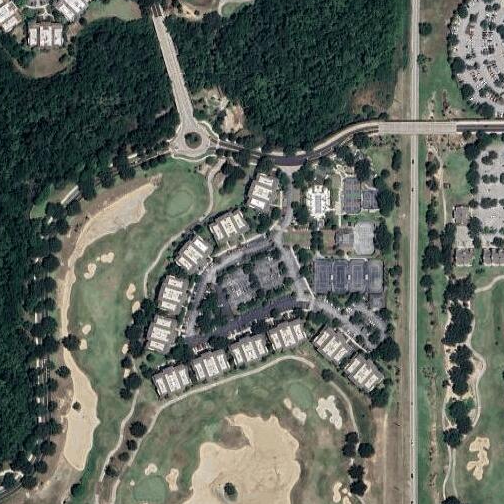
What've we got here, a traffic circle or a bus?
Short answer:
traffic circle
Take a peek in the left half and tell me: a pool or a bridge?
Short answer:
bridge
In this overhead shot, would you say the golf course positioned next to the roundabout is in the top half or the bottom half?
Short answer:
bottom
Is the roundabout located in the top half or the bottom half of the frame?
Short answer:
top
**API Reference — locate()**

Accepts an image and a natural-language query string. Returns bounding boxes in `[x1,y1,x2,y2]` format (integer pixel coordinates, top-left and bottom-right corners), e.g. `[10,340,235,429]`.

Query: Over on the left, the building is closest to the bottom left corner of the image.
[152,364,192,401]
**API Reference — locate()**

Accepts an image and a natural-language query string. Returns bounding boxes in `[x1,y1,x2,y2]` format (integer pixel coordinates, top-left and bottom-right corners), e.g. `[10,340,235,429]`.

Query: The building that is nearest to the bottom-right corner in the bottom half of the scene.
[342,354,384,395]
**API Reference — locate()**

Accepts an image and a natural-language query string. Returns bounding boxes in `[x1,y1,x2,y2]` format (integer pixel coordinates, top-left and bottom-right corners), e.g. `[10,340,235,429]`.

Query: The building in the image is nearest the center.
[208,206,249,245]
